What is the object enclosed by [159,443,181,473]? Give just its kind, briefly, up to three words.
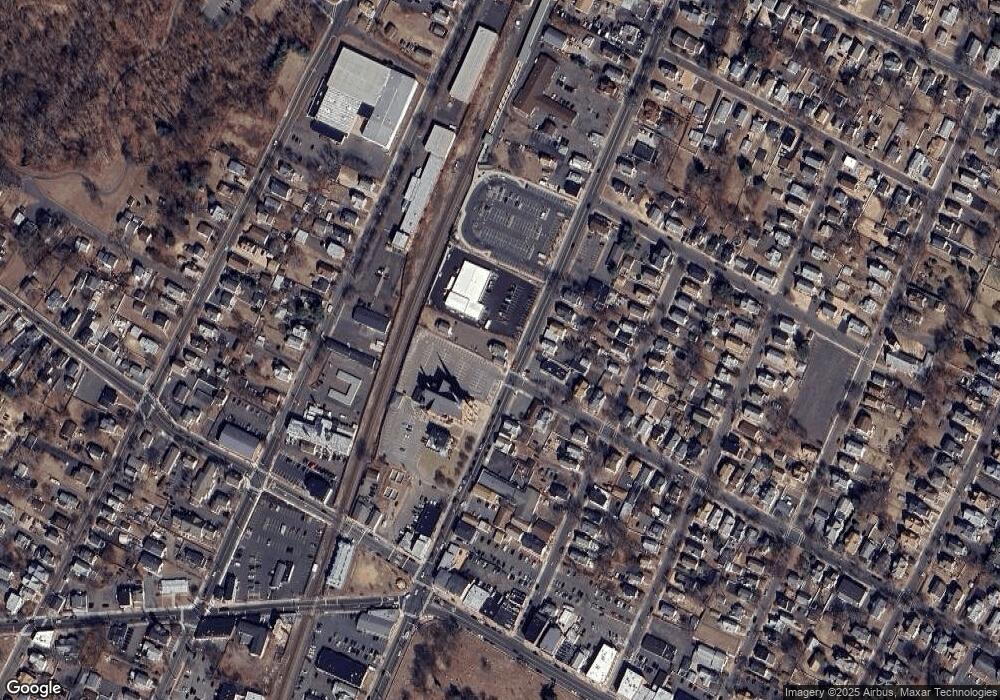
building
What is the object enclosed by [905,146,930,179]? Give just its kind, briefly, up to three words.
house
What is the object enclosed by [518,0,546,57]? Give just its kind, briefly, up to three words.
shed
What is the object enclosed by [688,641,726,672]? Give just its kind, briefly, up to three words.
building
